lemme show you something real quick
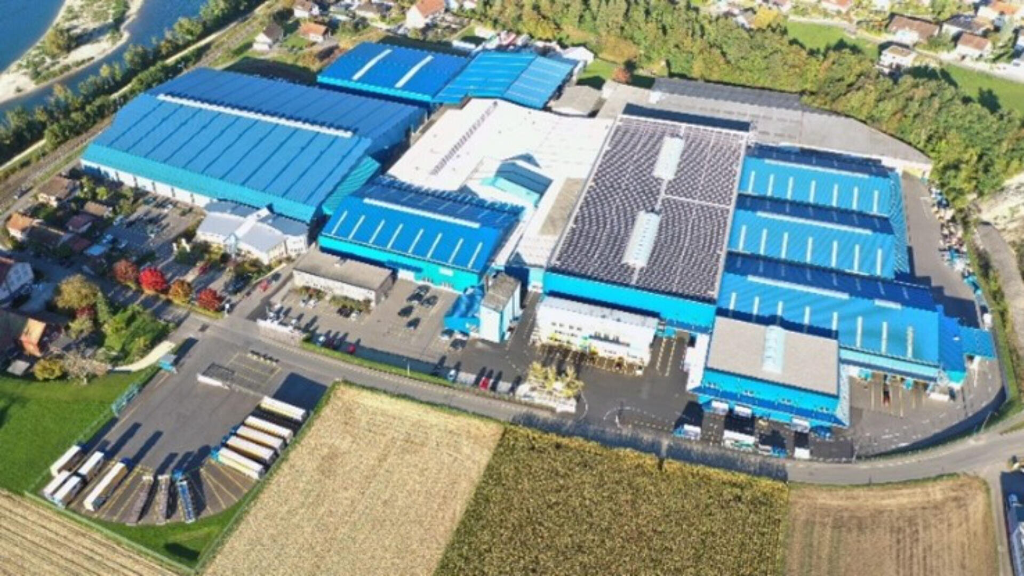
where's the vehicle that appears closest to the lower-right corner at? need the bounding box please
[928,389,952,405]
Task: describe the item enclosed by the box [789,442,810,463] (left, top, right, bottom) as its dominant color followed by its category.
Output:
white vehicle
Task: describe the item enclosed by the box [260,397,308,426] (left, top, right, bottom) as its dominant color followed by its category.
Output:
white vehicle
